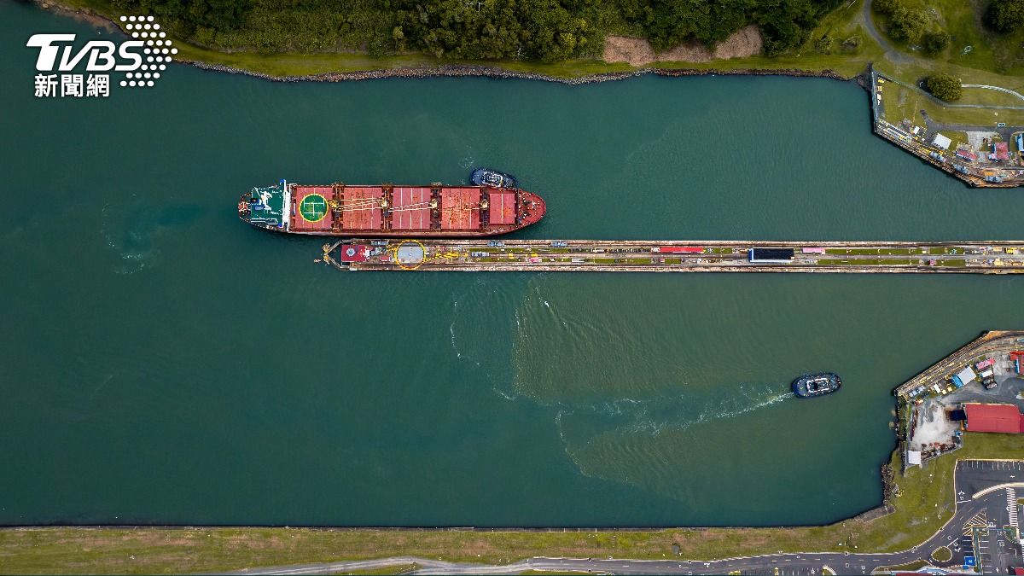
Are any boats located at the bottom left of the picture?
No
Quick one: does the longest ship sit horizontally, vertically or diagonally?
horizontally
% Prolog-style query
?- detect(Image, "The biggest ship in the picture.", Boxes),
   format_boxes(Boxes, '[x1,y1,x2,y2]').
[237,179,547,237]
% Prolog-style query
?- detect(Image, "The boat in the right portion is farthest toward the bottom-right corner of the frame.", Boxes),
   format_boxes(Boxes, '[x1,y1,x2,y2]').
[792,374,841,396]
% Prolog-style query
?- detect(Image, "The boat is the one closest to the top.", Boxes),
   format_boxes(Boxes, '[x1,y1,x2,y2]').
[470,167,518,187]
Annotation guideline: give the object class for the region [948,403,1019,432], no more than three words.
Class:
building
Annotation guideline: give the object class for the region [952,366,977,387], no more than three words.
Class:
shed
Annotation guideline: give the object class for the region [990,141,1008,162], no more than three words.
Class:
building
